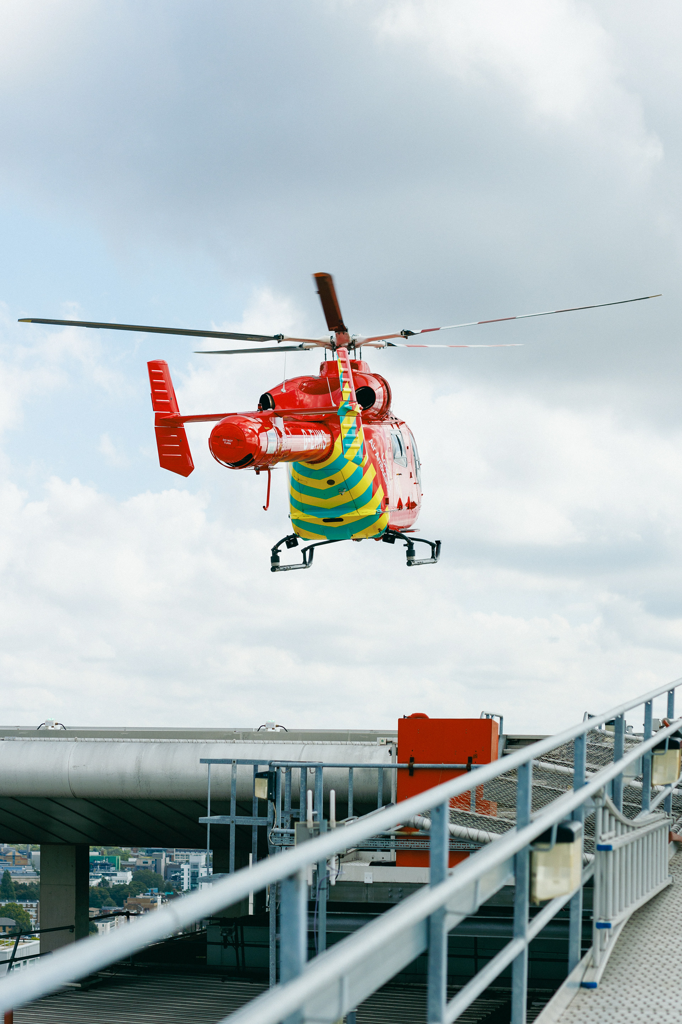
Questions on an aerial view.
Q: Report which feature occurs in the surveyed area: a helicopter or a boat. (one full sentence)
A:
There is a helicopter in the scene.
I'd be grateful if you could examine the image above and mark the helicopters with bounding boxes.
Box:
[17,273,661,571]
